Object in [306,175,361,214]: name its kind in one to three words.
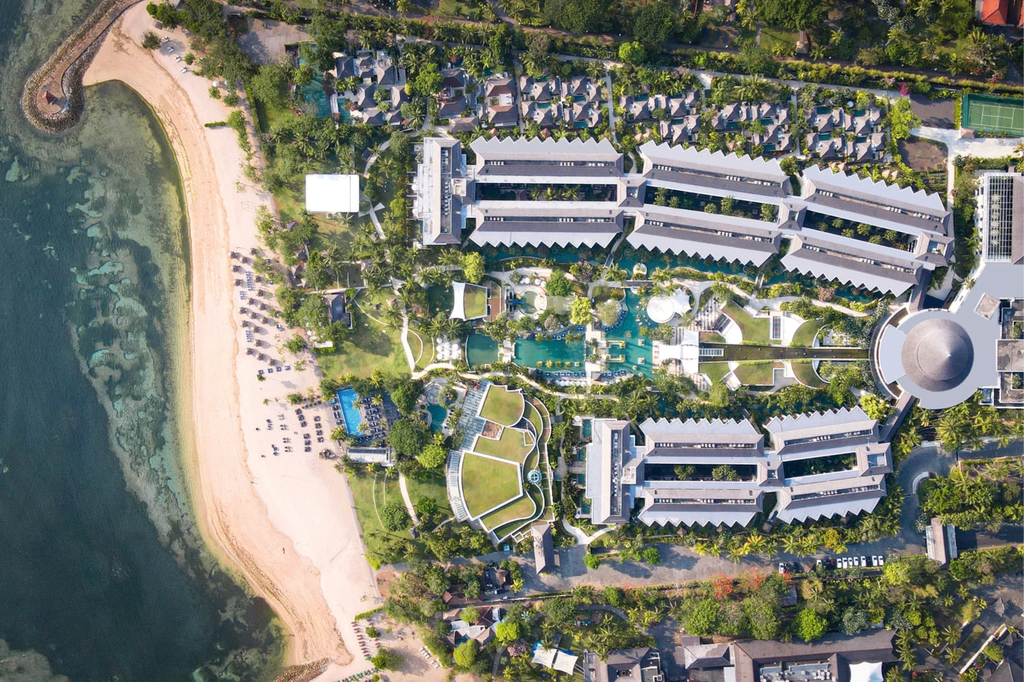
tent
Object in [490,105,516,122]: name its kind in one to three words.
house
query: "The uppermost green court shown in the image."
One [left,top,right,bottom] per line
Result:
[962,92,1024,140]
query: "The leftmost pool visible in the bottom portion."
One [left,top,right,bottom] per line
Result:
[336,387,364,438]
